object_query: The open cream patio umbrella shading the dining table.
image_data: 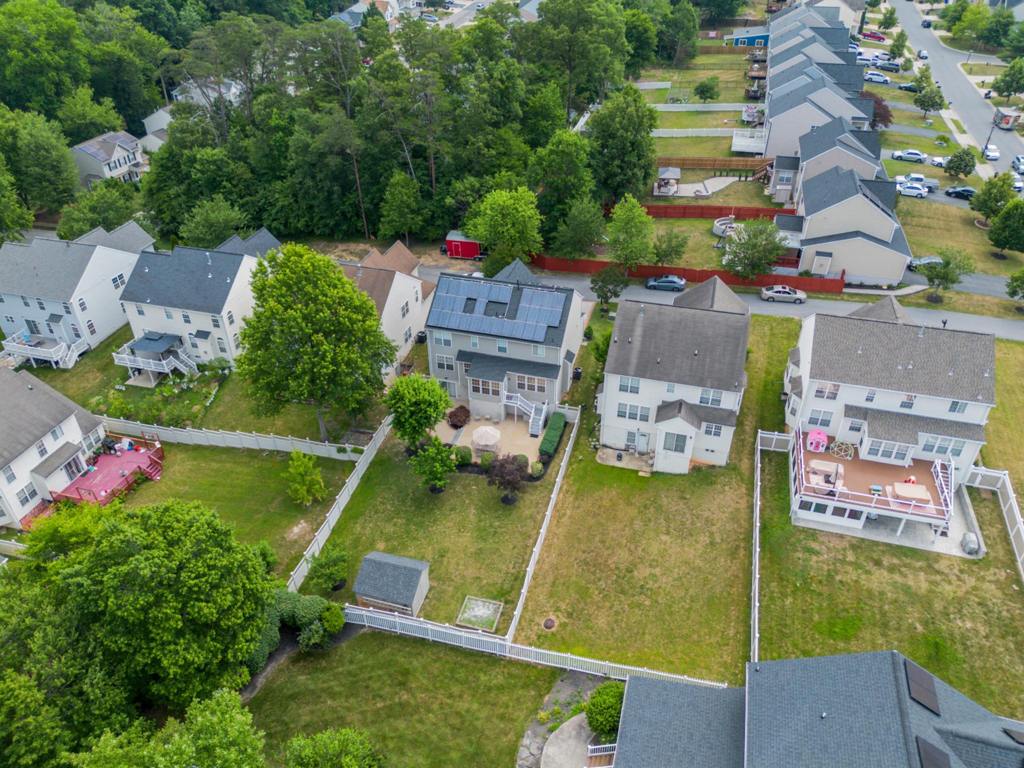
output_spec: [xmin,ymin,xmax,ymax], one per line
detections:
[469,420,503,444]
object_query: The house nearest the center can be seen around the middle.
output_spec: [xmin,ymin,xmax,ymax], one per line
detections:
[425,258,581,424]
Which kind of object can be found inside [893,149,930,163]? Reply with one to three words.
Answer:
car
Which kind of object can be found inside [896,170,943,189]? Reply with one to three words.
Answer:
vehicle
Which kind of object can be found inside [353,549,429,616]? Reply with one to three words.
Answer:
shed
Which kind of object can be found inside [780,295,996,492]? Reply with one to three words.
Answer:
house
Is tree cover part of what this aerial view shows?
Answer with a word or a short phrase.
Yes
